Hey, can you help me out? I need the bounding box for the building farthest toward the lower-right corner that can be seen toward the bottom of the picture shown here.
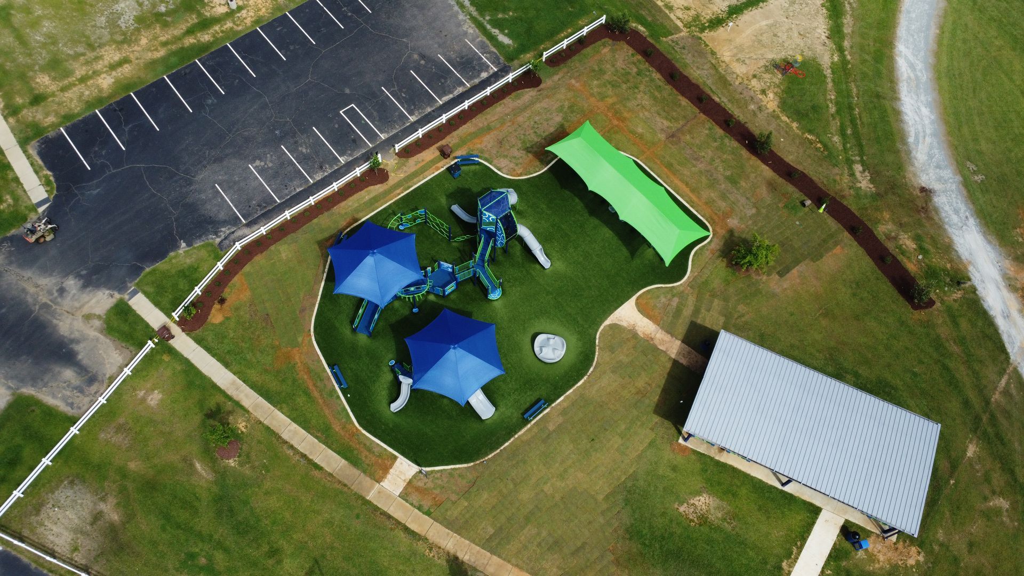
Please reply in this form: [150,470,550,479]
[683,329,943,543]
